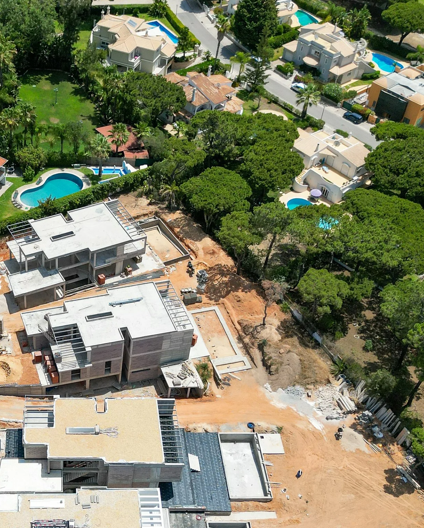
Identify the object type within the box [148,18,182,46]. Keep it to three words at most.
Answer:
swimming pool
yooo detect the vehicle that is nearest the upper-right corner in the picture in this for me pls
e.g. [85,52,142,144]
[341,104,368,122]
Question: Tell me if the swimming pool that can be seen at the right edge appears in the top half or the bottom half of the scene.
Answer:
top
